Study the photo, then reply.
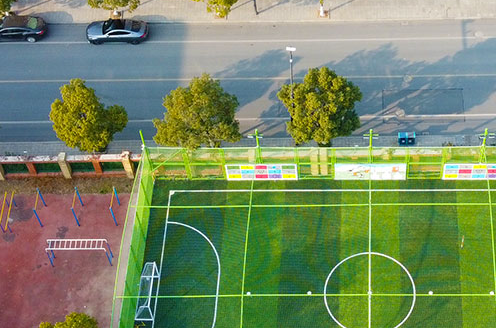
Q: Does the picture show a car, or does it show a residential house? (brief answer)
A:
car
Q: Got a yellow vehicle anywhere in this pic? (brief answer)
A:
No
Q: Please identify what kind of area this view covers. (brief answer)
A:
sports ground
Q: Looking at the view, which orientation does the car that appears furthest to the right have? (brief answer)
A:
from side to side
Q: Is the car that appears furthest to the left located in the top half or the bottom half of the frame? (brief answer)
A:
top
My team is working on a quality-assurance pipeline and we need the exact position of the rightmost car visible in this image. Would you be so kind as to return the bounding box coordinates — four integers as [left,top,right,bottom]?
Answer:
[84,13,150,41]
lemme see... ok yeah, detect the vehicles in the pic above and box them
[0,15,48,42]
[84,13,150,41]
